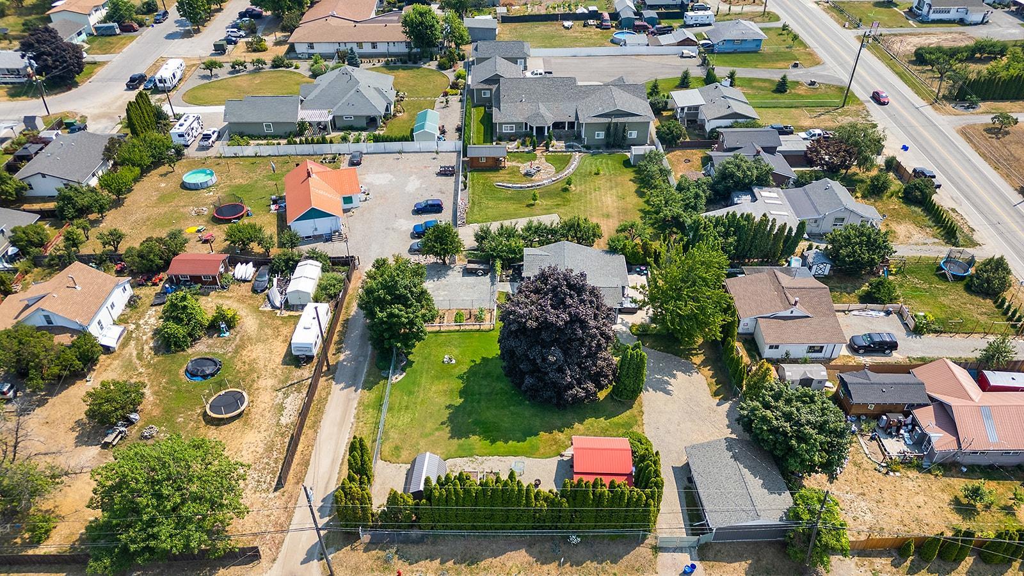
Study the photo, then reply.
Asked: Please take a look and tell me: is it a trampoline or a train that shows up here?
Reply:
trampoline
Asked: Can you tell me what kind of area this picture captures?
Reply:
residential area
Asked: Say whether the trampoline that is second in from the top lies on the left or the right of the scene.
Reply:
right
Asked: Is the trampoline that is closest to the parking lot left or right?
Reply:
left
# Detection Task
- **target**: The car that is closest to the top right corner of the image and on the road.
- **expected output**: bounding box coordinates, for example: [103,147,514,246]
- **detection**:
[873,89,890,102]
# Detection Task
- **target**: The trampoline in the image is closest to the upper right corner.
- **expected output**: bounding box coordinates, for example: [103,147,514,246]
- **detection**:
[935,242,982,281]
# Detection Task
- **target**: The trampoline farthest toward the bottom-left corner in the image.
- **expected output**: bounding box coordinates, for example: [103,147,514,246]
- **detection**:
[201,376,251,423]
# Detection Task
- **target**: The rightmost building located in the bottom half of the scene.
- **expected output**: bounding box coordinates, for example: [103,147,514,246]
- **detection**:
[914,363,1024,468]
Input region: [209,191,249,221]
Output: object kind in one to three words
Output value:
trampoline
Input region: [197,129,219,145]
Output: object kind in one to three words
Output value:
vehicle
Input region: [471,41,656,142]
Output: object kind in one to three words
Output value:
house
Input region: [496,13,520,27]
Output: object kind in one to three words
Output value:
shed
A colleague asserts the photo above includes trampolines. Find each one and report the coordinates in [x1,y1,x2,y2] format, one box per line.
[209,191,249,221]
[201,376,251,423]
[935,242,982,281]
